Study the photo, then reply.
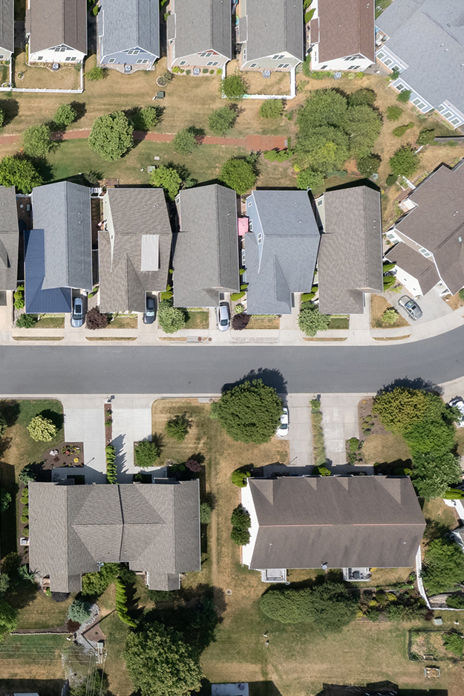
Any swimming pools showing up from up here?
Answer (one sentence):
No, no swimming pool can be seen from above.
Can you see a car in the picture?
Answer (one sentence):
Yes, I can see a car in this picture.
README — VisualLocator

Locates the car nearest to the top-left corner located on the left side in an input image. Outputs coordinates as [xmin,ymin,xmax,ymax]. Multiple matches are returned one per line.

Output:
[71,295,84,328]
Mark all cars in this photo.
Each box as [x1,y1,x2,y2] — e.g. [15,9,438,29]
[396,292,422,322]
[448,399,464,426]
[215,303,231,331]
[142,295,158,325]
[274,407,289,438]
[71,295,84,328]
